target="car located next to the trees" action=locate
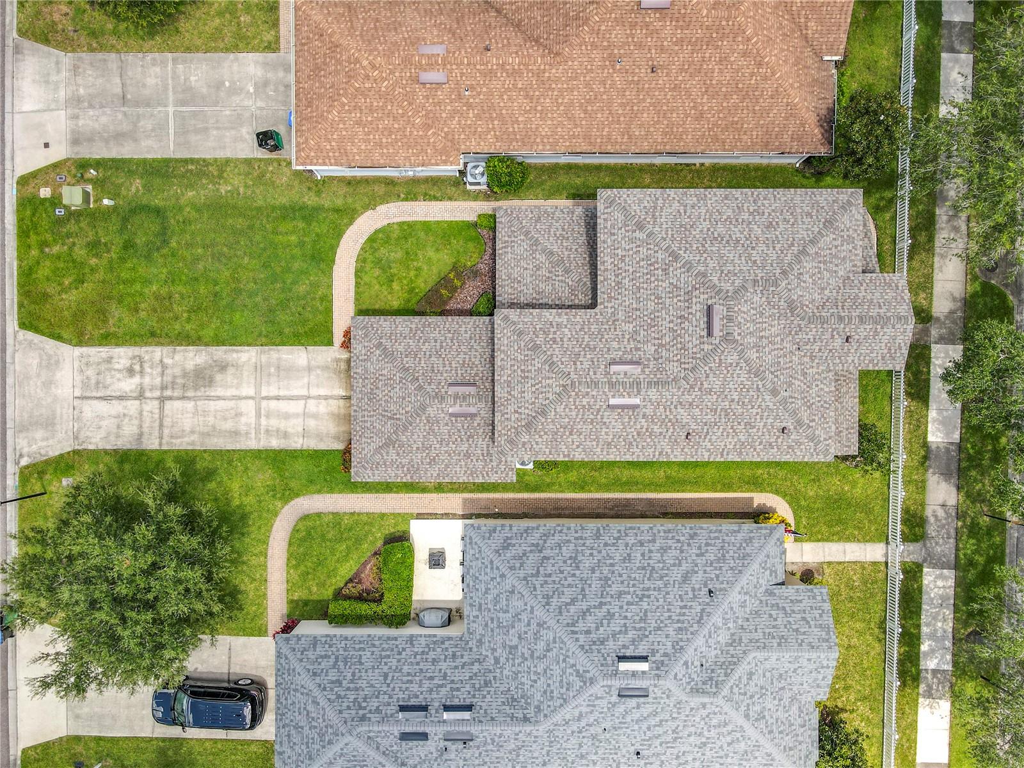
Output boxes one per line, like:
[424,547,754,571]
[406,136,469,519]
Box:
[154,674,269,733]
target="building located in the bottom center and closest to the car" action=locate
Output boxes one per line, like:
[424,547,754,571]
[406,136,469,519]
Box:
[272,520,844,768]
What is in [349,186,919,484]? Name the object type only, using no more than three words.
house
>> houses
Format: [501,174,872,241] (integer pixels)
[290,0,851,185]
[272,520,844,768]
[349,186,919,484]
